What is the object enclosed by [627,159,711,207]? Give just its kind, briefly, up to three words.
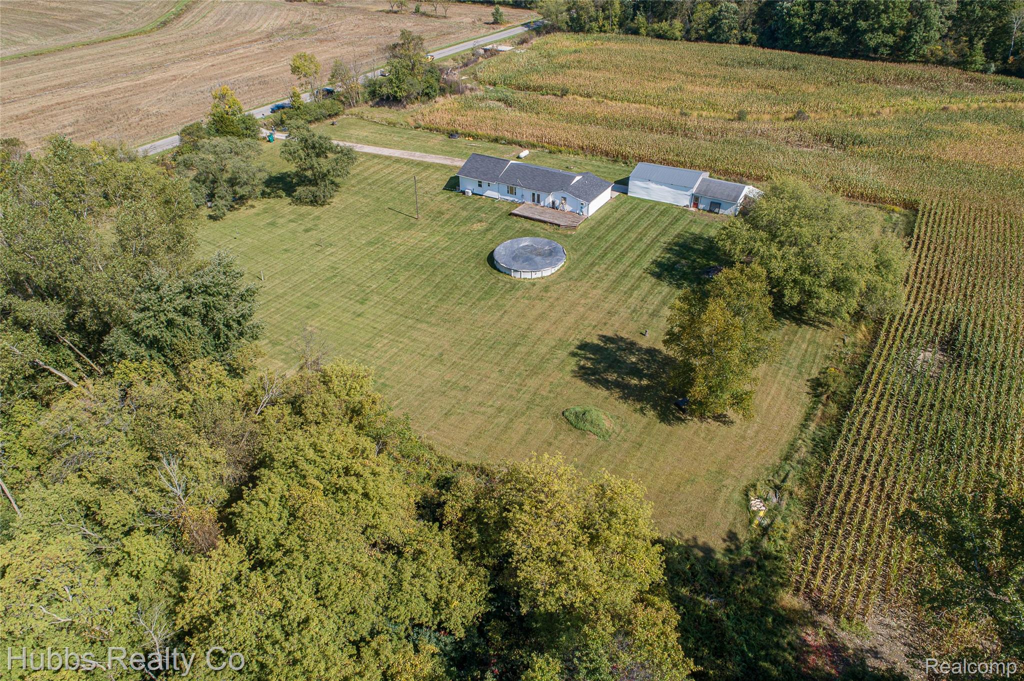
barn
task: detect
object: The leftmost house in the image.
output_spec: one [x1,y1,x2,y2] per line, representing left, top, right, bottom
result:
[455,153,615,220]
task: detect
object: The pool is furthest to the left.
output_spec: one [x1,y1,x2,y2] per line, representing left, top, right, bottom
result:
[492,237,567,279]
